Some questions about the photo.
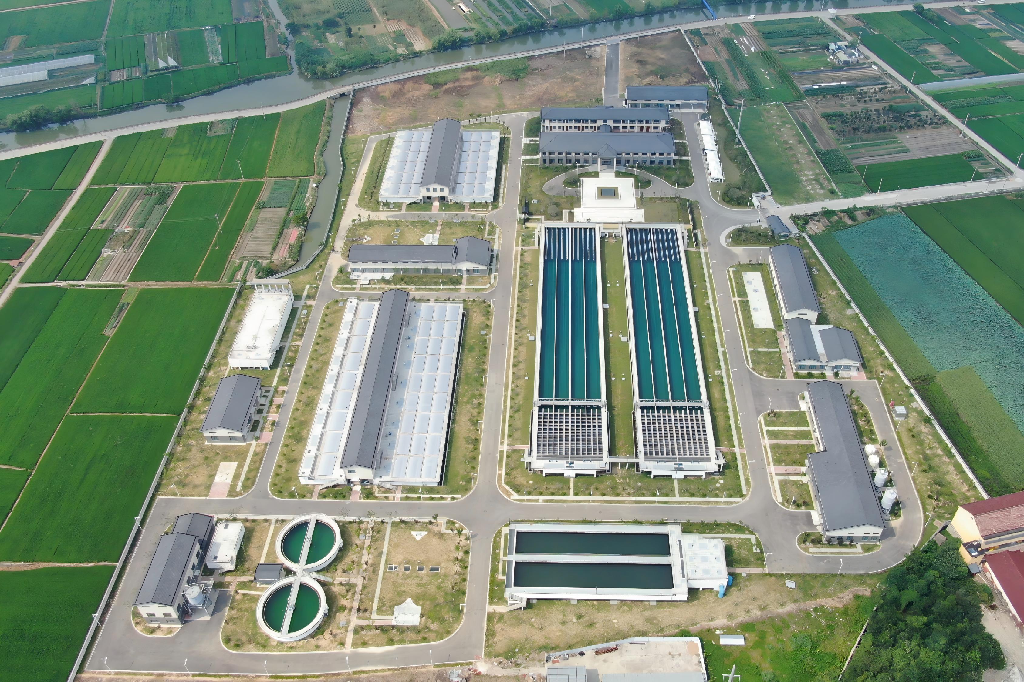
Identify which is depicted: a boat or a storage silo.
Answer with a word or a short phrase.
storage silo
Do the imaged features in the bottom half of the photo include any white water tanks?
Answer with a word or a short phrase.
Yes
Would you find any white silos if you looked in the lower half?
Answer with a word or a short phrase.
Yes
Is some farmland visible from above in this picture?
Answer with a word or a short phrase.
Yes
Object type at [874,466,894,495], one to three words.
silo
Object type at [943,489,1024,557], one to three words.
house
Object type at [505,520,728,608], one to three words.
water tank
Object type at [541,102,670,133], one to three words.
building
